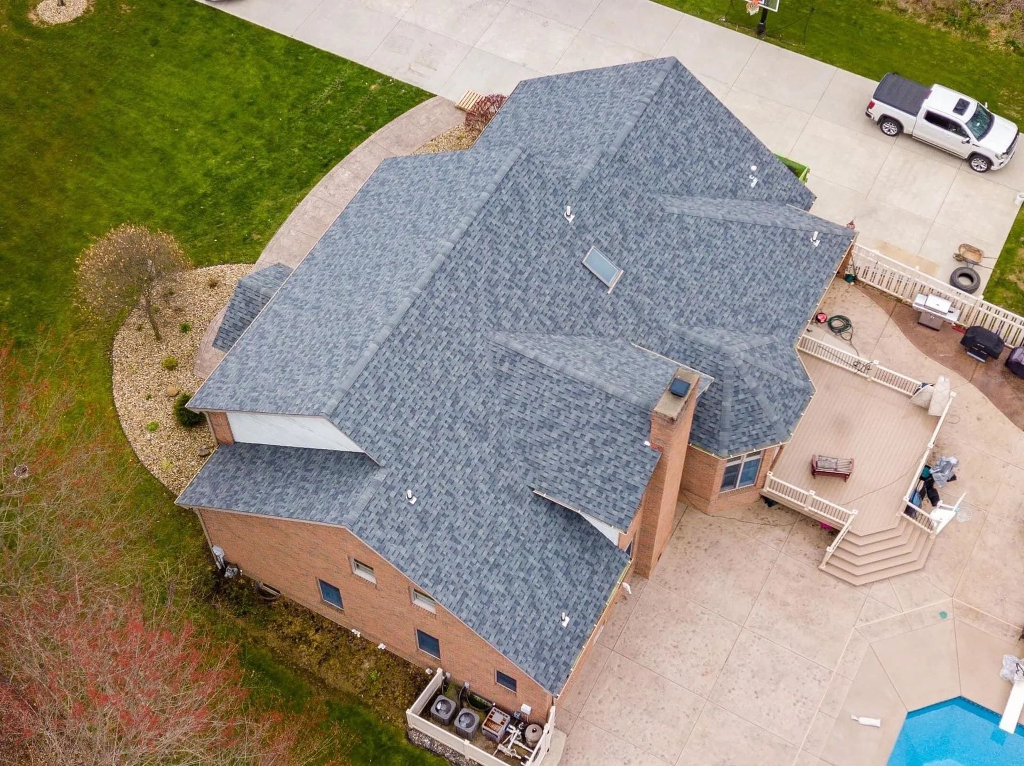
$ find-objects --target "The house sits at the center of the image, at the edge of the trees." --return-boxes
[173,54,859,730]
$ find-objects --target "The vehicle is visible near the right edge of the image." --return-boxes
[862,70,1024,169]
